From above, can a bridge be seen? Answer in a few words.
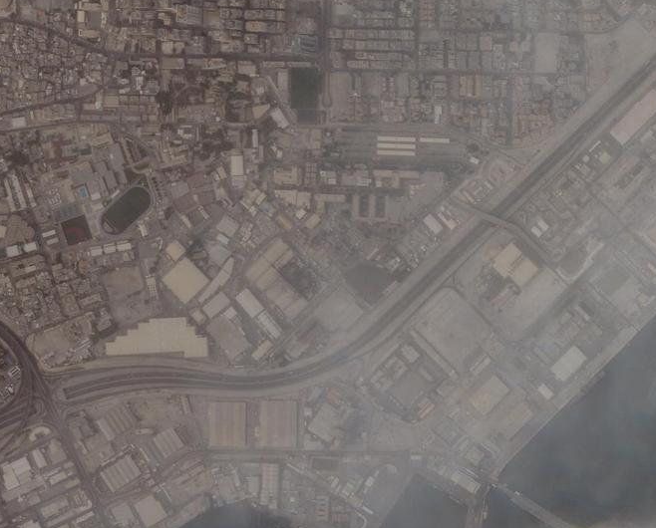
Yes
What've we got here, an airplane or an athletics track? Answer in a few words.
athletics track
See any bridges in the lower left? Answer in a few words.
No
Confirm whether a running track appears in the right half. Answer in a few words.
No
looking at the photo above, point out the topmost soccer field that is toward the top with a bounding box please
[291,67,319,109]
